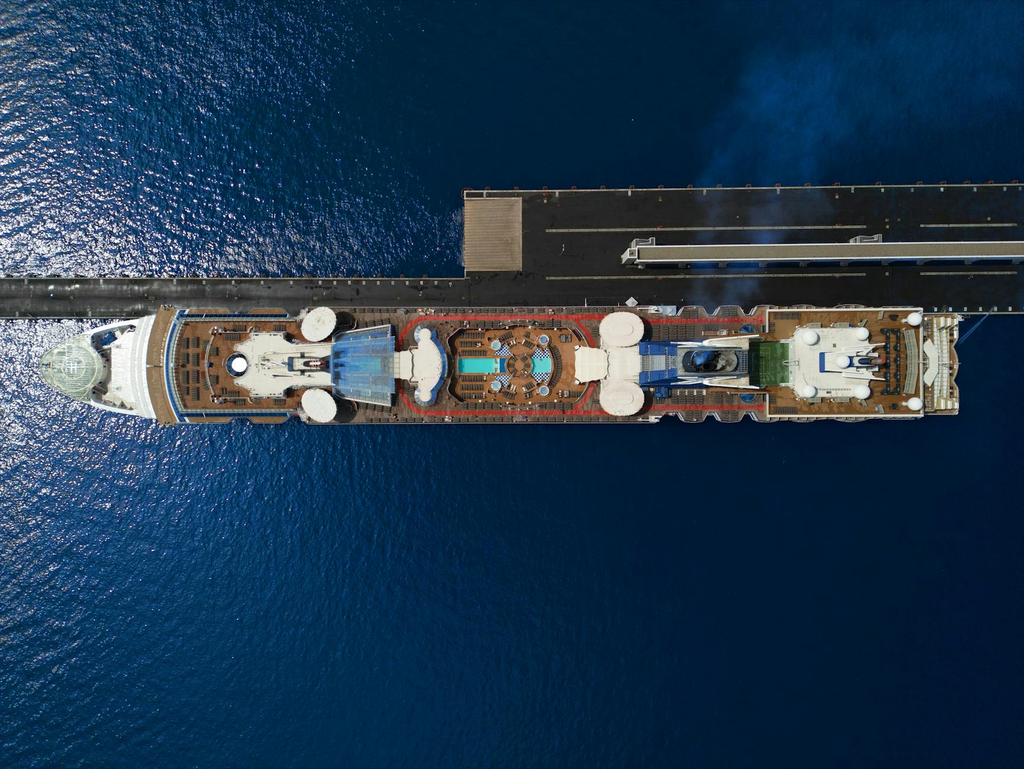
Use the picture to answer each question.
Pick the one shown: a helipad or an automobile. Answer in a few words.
helipad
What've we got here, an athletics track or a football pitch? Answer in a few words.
athletics track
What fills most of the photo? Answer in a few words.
water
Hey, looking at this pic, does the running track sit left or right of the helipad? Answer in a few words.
on the right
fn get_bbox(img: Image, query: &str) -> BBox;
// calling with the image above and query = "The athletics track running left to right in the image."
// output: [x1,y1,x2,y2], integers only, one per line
[396,315,764,415]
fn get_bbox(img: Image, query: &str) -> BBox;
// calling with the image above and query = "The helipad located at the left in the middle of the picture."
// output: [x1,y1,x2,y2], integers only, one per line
[38,334,103,401]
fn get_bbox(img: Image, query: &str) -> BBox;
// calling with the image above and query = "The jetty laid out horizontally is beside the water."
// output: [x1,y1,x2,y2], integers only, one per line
[0,184,1024,319]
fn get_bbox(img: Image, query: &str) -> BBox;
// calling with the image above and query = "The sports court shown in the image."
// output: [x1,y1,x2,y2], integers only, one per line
[741,339,799,388]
